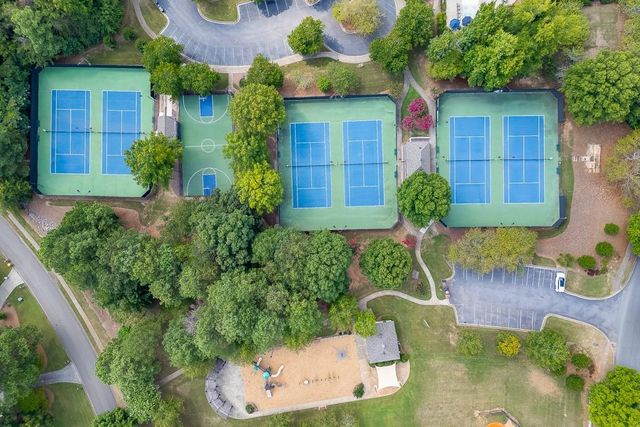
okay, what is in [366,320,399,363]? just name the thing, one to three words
building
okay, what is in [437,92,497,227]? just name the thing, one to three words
tennis court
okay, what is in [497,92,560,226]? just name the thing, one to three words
tennis court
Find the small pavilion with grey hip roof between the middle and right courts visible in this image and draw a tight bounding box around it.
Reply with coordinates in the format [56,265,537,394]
[406,142,431,176]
